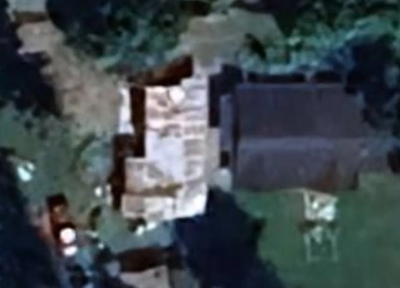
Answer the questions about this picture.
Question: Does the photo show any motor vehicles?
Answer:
No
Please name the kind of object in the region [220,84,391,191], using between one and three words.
house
